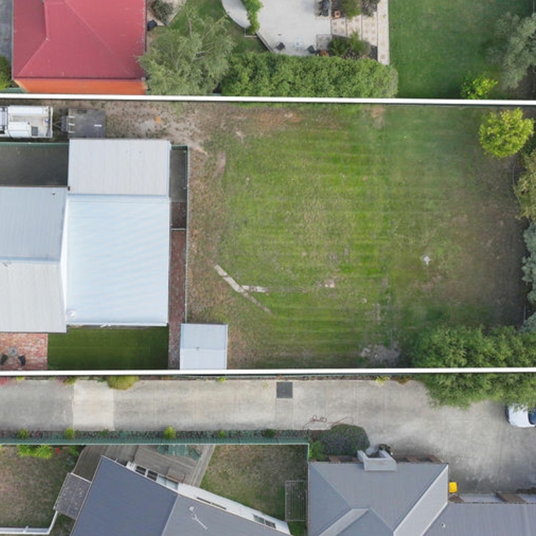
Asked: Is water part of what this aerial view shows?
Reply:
No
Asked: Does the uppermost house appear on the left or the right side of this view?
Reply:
left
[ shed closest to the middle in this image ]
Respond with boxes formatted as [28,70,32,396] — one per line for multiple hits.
[181,323,229,370]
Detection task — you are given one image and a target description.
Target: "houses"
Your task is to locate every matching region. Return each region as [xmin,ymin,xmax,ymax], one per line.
[0,184,173,334]
[12,0,150,94]
[54,450,292,536]
[306,449,536,536]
